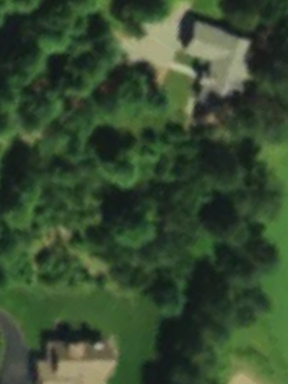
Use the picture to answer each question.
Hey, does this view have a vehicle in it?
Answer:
No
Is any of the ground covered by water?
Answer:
No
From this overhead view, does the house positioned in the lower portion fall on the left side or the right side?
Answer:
left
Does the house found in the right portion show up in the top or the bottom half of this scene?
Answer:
top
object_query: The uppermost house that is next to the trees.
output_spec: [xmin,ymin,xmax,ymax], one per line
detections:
[182,18,253,101]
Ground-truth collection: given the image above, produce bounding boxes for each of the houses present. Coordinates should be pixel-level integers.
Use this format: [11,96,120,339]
[37,342,116,384]
[182,18,253,101]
